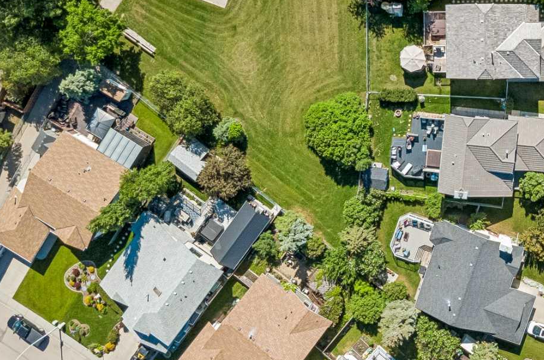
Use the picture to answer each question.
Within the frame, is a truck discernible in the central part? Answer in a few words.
No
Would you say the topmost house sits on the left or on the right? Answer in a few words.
right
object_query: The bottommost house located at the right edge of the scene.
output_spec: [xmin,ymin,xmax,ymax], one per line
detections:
[415,220,537,346]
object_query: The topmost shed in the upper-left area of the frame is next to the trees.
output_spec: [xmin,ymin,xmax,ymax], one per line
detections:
[100,80,131,101]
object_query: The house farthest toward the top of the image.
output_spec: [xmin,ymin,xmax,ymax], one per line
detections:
[445,2,544,82]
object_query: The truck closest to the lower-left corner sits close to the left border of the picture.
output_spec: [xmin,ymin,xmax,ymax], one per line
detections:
[8,314,51,348]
